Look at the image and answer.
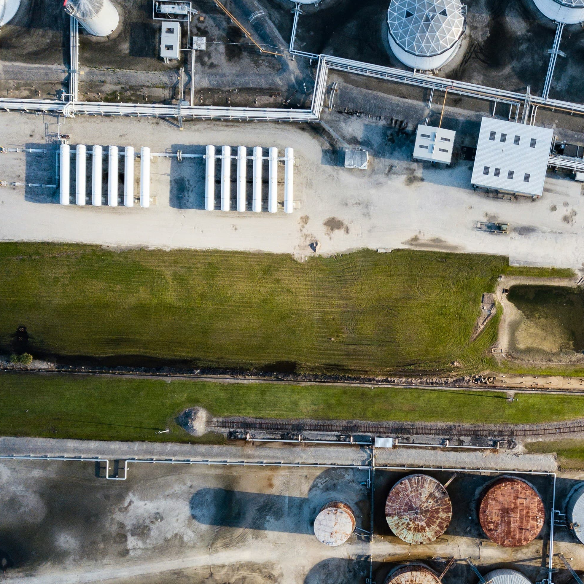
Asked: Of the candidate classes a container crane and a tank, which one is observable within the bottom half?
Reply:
tank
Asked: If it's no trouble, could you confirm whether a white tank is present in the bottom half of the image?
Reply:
Yes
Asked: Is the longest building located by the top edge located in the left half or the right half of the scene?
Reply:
left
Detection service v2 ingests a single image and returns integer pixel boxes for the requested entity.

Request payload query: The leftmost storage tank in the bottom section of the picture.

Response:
[313,498,369,548]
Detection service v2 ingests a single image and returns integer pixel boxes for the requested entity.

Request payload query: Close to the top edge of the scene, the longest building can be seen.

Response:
[160,21,182,63]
